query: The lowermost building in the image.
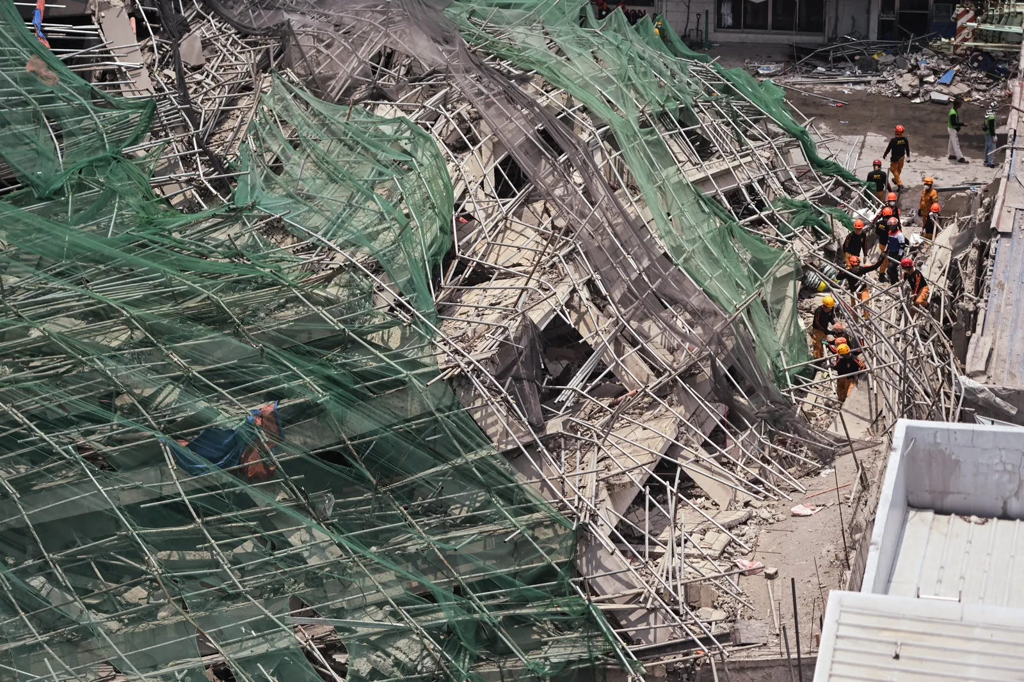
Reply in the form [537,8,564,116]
[814,419,1024,682]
